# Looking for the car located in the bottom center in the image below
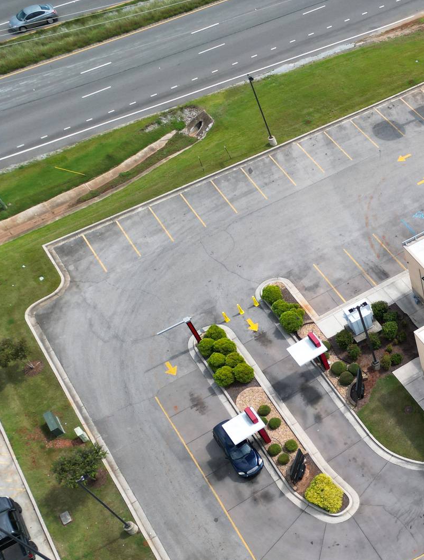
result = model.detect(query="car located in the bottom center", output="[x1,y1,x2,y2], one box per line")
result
[210,412,259,475]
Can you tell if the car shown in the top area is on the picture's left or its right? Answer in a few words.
left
